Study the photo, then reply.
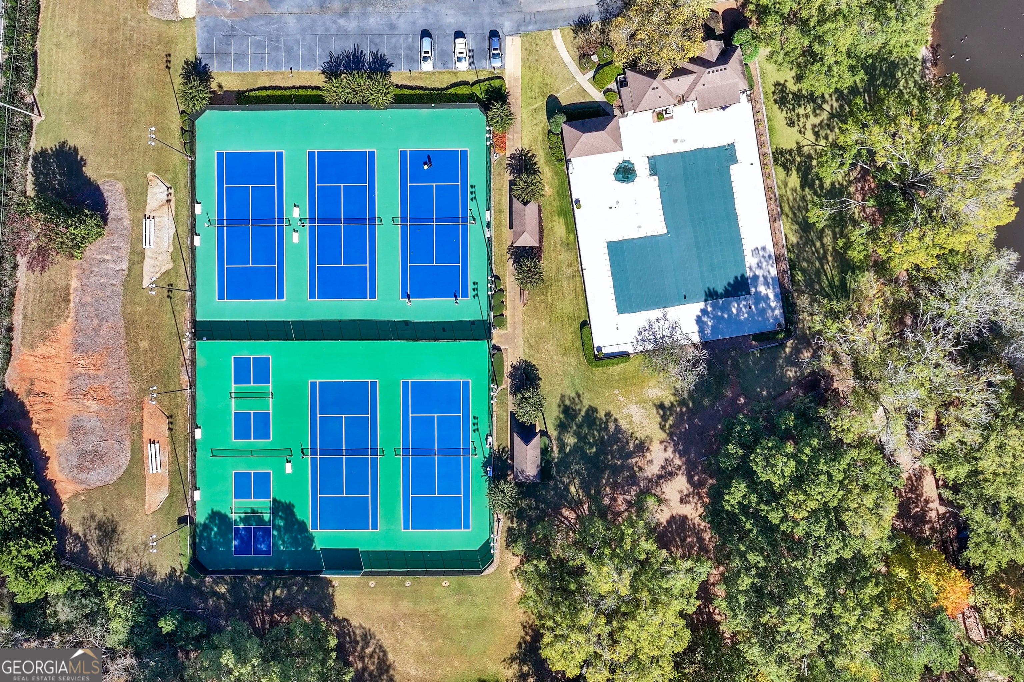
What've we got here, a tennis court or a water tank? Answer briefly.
tennis court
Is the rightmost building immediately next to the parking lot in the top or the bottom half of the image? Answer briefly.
top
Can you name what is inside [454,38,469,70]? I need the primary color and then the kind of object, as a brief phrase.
white car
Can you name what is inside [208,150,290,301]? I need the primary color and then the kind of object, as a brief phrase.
blue tennis court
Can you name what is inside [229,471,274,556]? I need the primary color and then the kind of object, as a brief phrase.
blue sports court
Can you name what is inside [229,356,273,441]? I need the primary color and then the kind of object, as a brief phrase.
blue sports court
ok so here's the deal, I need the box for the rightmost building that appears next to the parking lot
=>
[621,40,749,114]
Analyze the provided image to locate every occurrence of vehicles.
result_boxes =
[419,39,434,70]
[454,38,469,70]
[489,38,503,66]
